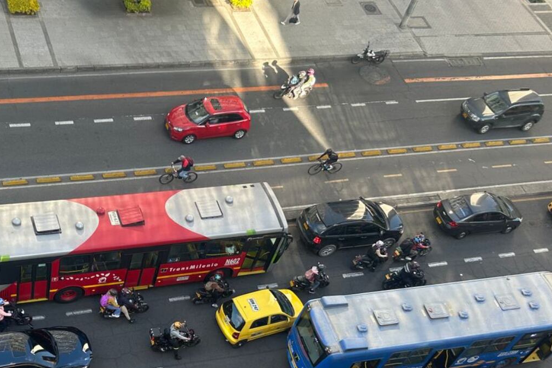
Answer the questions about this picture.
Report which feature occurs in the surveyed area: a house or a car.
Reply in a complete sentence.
There is a car in the scene.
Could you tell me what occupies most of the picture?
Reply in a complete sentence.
The bulk of the photo consists of paved ground.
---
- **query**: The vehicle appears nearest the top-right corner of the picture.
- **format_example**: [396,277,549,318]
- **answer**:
[458,82,546,131]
